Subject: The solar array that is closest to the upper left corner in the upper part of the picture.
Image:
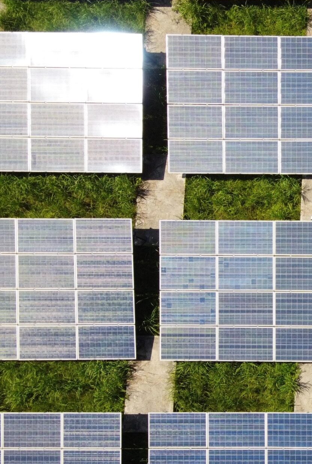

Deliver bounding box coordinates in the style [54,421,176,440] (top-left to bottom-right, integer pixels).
[0,33,157,173]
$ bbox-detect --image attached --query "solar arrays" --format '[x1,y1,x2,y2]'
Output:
[167,36,312,174]
[149,412,312,464]
[0,411,137,464]
[159,220,312,362]
[0,33,157,173]
[0,218,147,361]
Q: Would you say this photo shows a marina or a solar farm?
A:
solar farm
